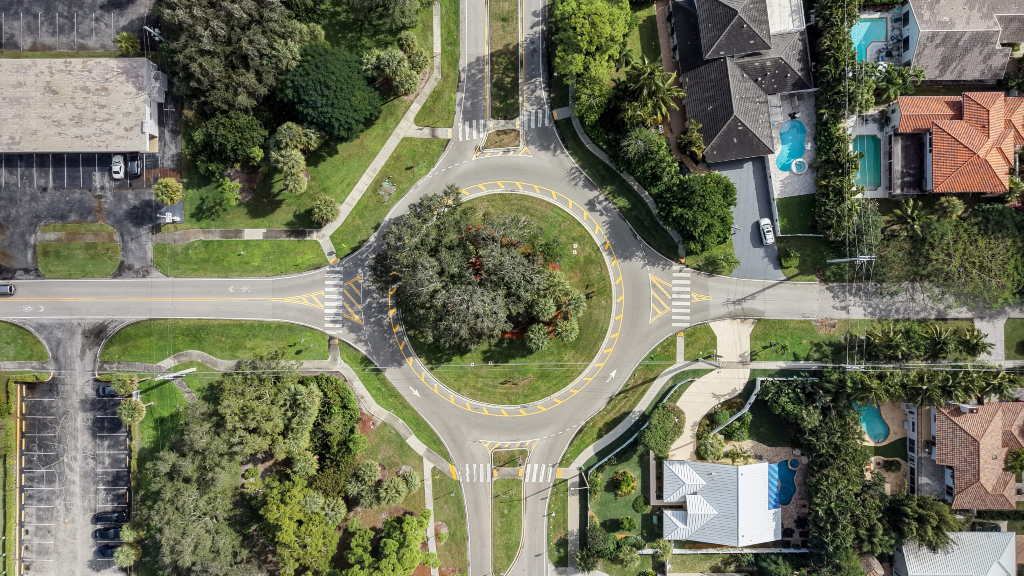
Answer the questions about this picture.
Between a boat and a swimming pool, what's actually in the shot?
swimming pool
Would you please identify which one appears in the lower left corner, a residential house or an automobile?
automobile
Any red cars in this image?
No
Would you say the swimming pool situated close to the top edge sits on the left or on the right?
right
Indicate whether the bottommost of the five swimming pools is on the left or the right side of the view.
right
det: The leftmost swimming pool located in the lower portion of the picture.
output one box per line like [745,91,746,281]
[777,456,803,507]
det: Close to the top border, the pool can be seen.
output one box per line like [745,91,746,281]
[846,17,887,64]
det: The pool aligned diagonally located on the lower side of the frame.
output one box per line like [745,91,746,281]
[852,400,891,444]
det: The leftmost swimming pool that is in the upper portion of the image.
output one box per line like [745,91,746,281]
[775,119,809,174]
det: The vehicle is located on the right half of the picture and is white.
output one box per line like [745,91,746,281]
[758,215,778,246]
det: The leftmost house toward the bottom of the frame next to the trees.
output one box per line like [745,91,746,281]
[662,459,782,547]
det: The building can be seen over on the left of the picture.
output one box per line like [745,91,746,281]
[0,57,167,153]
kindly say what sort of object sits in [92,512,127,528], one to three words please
car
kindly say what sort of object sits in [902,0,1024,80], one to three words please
house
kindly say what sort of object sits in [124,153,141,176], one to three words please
car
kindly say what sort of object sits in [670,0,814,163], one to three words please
house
